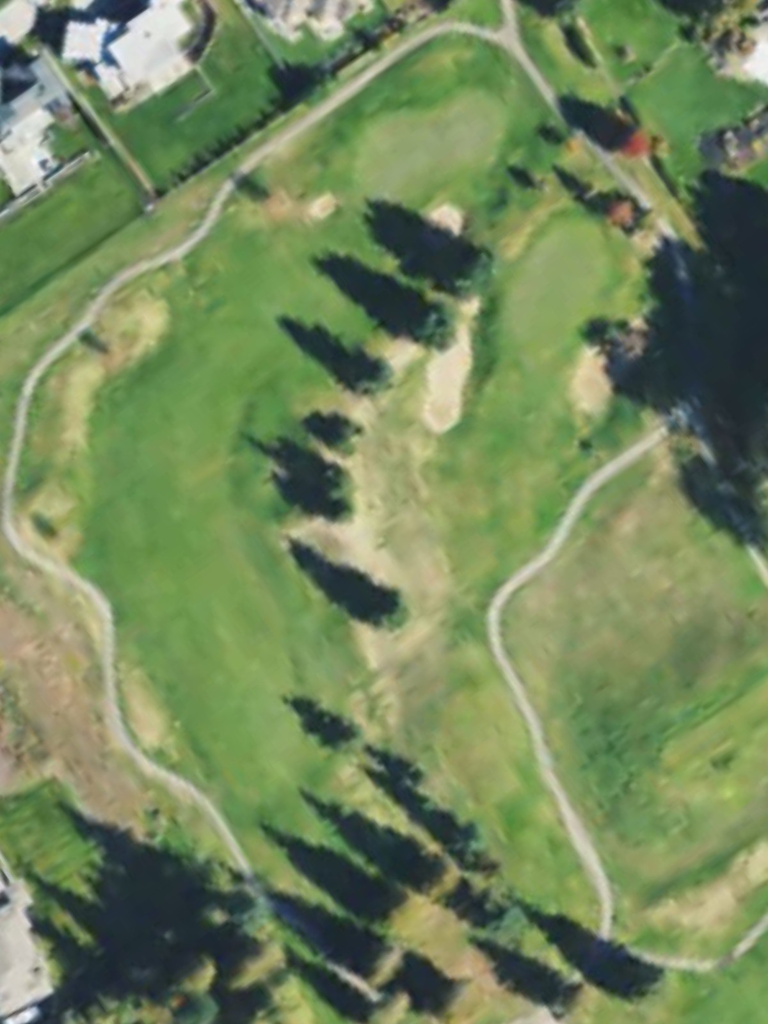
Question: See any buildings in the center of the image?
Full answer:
No, the scene shows no building in the center of the image.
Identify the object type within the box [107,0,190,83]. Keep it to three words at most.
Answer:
house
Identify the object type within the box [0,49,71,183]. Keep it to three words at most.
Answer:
house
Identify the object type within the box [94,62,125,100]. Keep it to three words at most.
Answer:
shed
